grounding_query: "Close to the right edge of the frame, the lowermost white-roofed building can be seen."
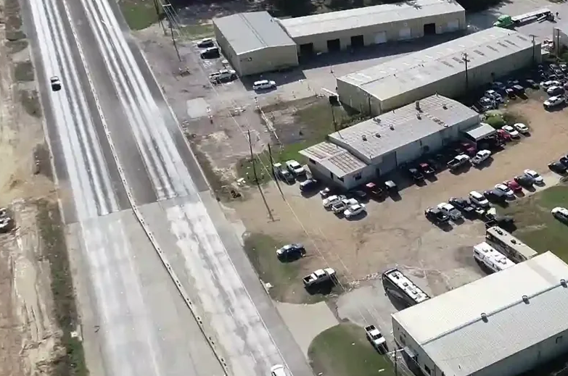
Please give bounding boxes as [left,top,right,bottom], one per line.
[395,248,568,376]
